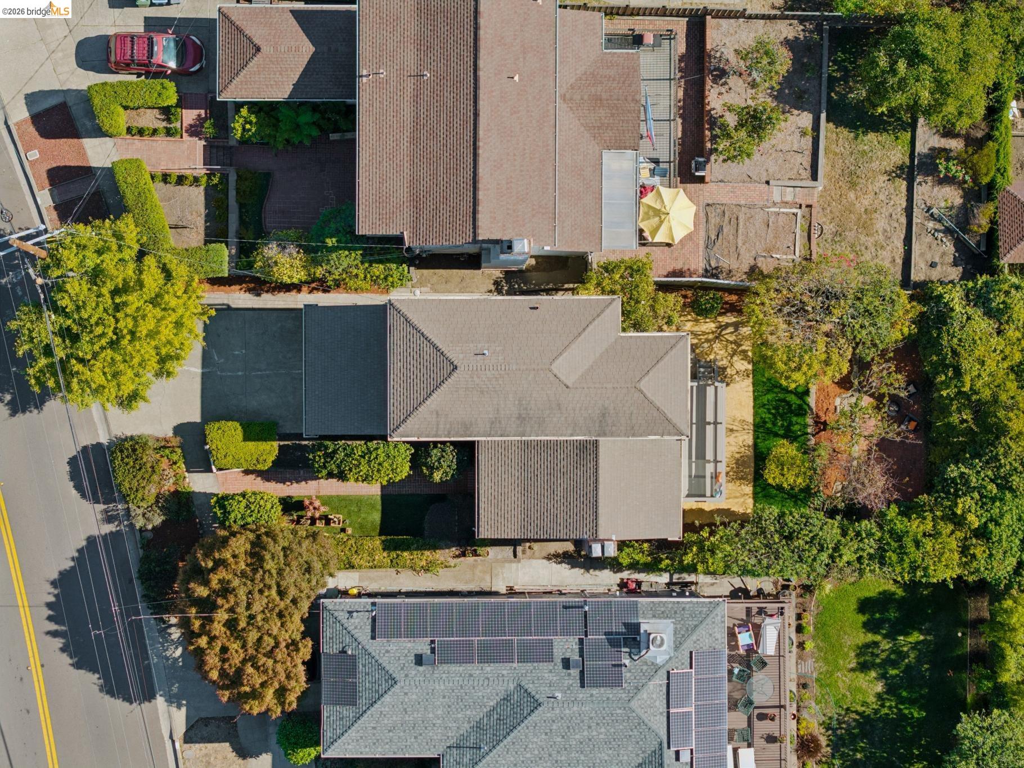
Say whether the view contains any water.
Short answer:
No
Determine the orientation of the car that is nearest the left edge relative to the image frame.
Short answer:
from left to right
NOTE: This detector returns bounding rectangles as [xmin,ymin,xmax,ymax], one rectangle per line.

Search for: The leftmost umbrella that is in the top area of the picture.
[639,184,697,244]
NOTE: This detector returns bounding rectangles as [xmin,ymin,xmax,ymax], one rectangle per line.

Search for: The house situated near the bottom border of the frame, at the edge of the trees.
[318,596,729,768]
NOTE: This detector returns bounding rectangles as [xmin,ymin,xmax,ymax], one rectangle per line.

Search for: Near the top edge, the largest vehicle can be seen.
[108,28,204,77]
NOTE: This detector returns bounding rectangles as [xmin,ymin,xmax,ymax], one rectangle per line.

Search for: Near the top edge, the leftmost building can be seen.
[216,0,641,270]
